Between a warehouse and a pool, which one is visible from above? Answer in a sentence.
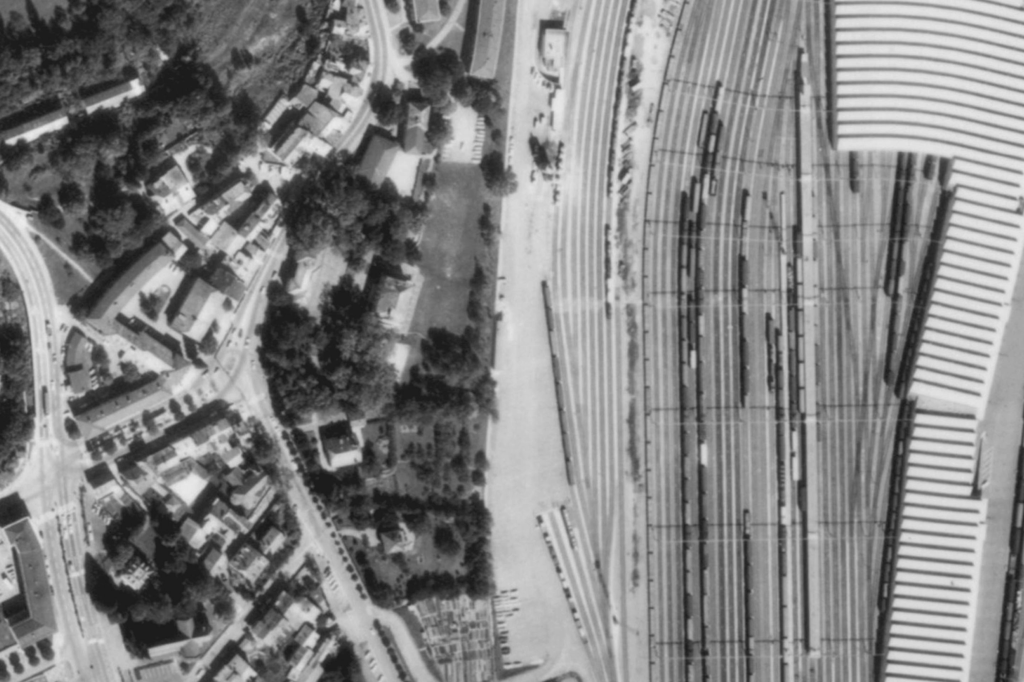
There is a warehouse in the scene.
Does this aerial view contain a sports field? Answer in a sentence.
Yes, looking at the shot, I can spot a sports field.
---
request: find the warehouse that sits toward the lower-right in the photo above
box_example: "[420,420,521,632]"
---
[877,409,988,682]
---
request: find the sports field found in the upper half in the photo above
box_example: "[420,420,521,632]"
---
[409,162,483,339]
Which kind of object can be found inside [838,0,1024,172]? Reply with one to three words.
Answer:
warehouse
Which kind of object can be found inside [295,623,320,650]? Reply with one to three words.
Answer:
house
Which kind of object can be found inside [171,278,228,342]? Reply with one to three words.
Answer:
building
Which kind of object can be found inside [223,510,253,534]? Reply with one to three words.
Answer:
building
